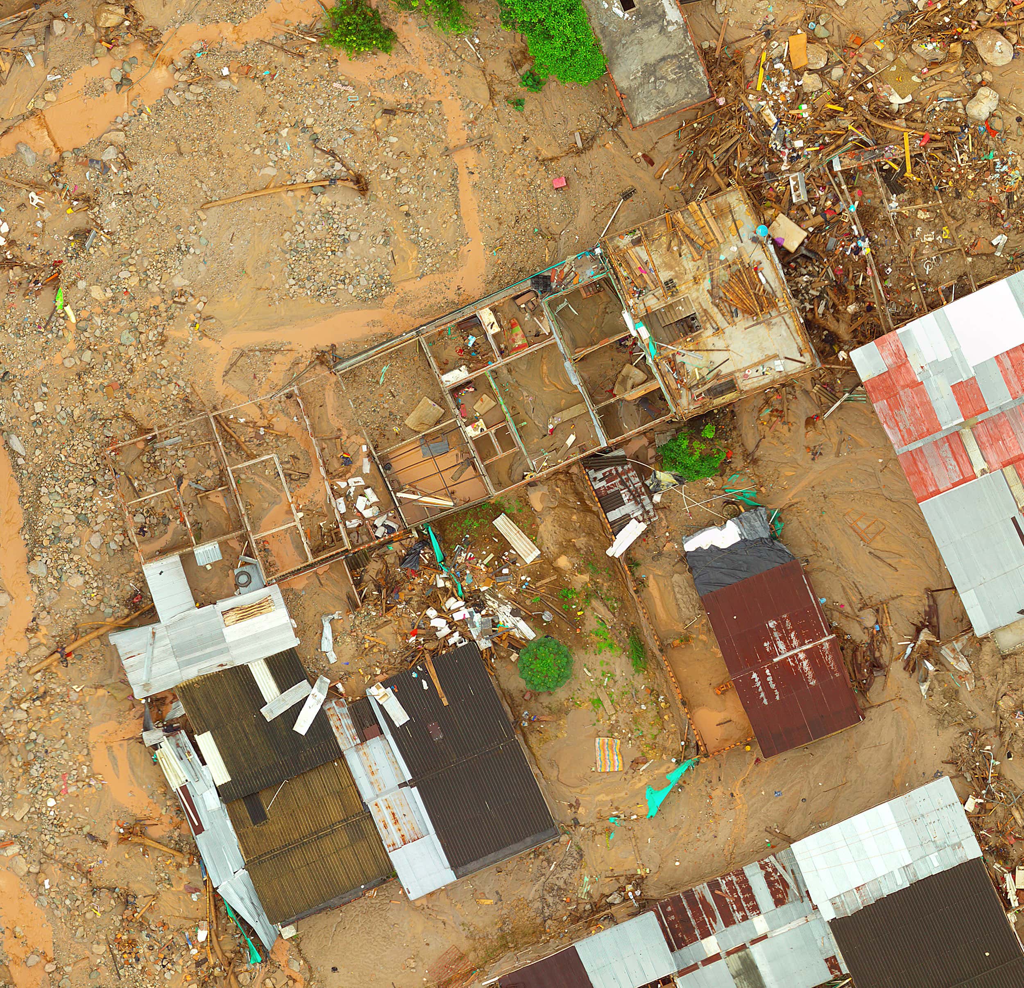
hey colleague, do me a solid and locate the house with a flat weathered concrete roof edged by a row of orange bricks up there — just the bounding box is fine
[580,0,717,137]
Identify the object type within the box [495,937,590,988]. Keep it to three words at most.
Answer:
house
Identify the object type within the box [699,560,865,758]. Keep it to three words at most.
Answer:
house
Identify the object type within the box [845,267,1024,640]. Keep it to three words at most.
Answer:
warehouse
